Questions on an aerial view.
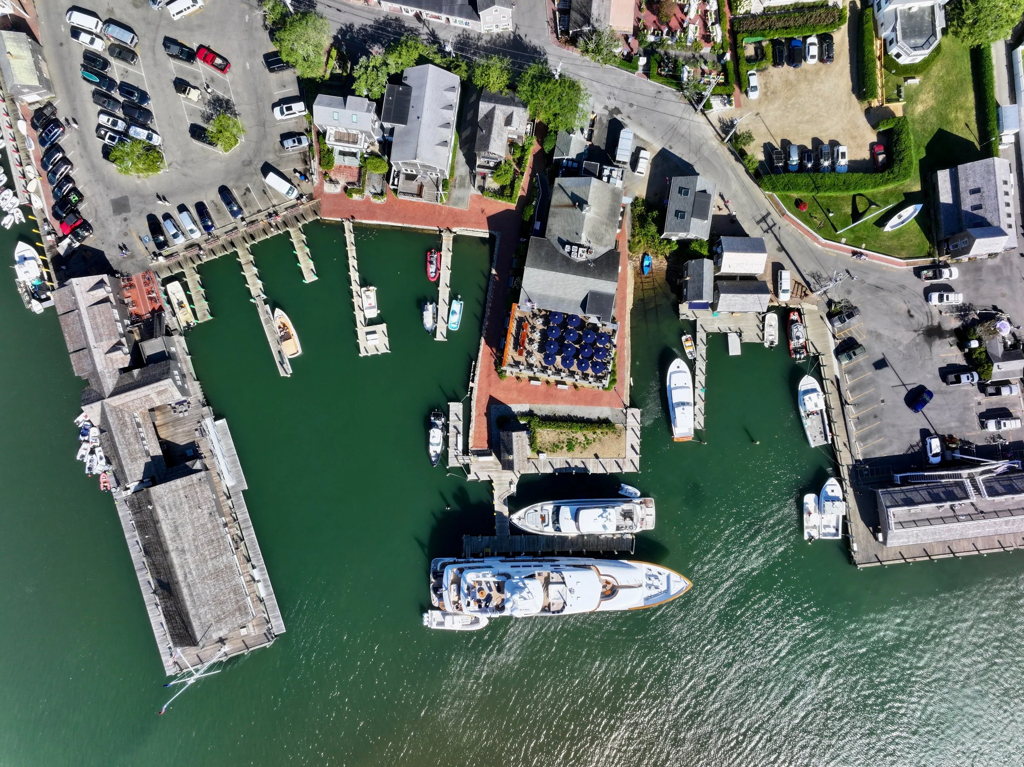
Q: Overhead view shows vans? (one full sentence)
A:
Yes, looking at the shot, I can spot a van.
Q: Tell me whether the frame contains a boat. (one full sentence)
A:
Yes, this view includes a boat.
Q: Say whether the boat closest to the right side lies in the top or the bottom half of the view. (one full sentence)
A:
It is in the top half that the boat closest to the right side appears.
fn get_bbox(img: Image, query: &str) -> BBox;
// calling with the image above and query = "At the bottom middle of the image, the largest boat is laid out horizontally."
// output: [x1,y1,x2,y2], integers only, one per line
[431,554,695,617]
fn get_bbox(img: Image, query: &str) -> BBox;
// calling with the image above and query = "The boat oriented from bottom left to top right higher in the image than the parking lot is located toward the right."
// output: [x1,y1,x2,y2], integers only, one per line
[881,204,923,232]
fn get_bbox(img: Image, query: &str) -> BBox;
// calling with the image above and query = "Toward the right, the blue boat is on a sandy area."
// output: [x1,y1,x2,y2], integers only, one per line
[641,255,653,276]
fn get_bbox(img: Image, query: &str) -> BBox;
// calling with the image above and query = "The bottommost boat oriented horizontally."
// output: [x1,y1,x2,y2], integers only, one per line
[425,610,488,630]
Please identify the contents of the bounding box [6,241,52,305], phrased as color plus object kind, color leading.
white boat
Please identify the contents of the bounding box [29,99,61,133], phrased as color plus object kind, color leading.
black truck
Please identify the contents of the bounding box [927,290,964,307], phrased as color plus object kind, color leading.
white car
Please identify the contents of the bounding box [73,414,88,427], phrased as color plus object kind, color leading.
white boat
